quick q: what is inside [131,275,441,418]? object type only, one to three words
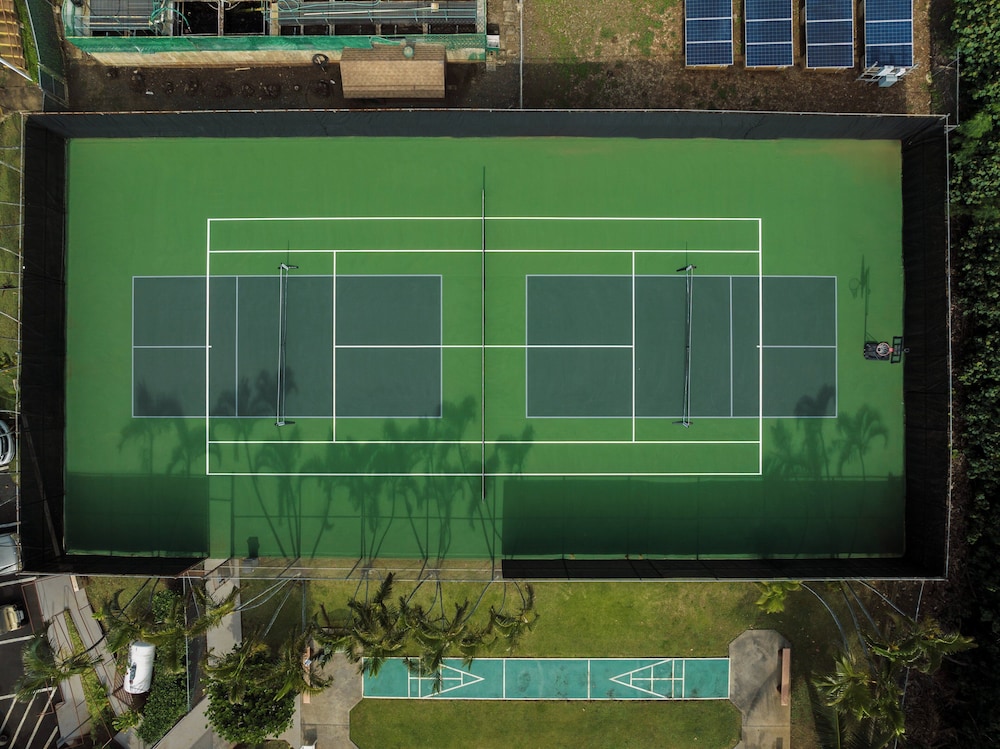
sports court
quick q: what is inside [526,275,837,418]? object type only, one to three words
sports court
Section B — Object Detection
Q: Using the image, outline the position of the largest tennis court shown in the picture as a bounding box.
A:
[65,139,904,558]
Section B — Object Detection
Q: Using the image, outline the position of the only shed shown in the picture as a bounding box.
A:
[343,46,443,110]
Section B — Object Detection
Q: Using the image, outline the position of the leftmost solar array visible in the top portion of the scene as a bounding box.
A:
[683,0,734,72]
